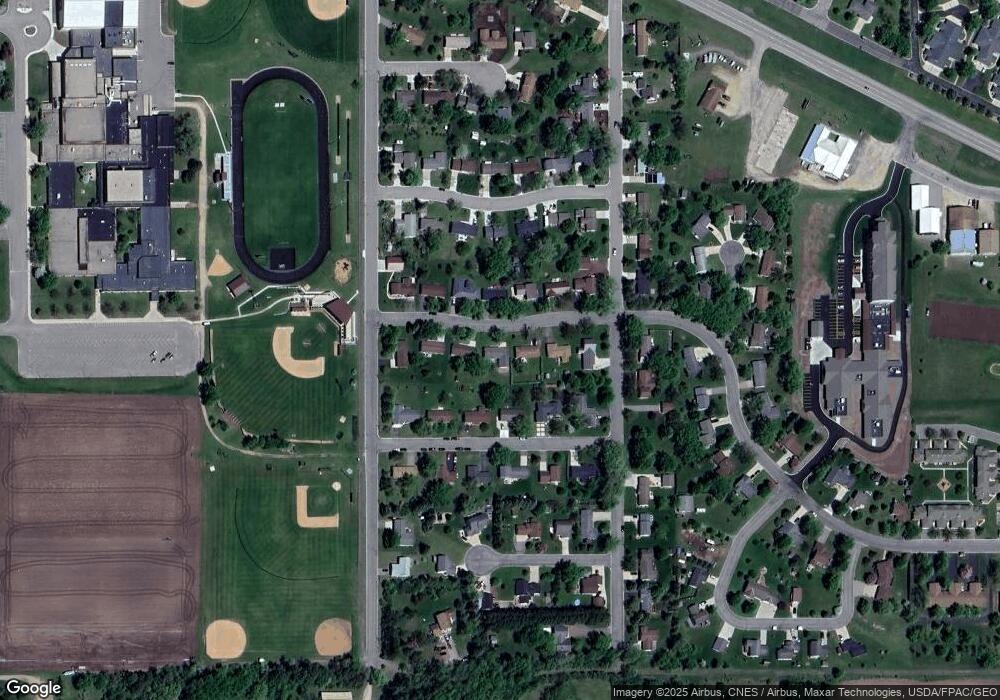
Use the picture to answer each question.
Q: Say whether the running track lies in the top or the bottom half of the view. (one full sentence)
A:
The running track sits in the top half of the picture.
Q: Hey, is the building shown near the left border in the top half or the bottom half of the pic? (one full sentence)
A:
The top half of the photo is where the building shown near the left border is.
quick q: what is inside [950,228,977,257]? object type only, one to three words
shed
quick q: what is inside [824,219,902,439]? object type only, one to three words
building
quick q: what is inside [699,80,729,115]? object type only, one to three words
barn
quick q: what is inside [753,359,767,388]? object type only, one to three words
house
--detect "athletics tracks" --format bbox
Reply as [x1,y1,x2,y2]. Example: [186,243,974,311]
[230,65,331,284]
